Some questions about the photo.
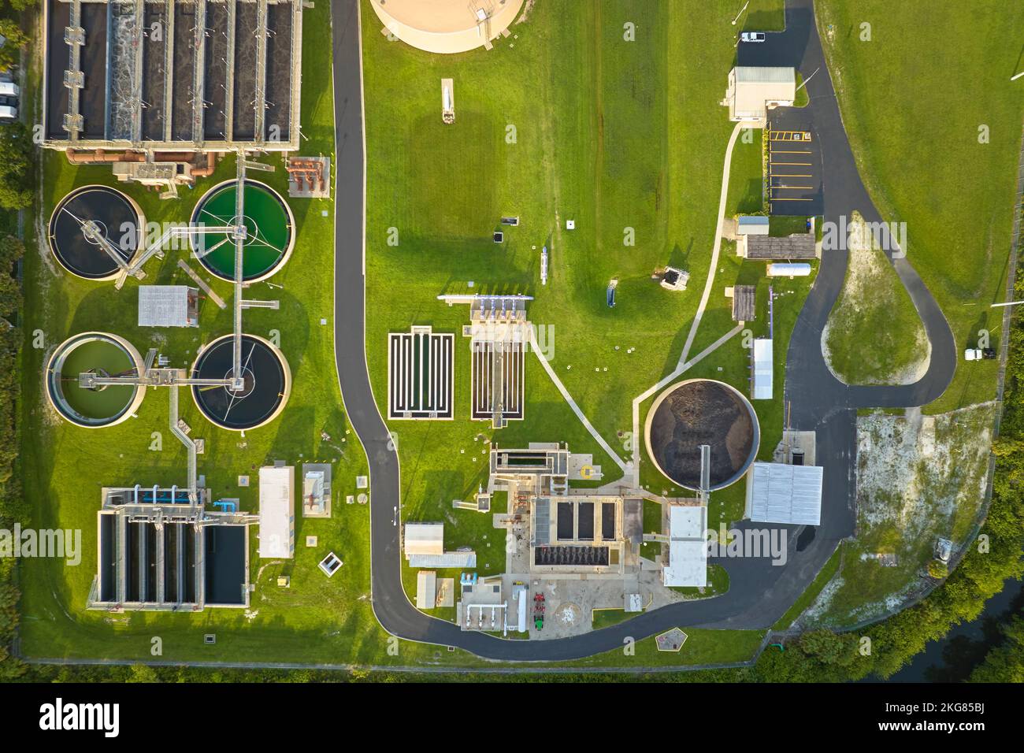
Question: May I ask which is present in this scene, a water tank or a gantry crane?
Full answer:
This aerial view contains a water tank.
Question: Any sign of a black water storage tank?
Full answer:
Yes, a black water storage tank appears in the view.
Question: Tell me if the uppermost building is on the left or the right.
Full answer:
The uppermost building is on the right side of the image.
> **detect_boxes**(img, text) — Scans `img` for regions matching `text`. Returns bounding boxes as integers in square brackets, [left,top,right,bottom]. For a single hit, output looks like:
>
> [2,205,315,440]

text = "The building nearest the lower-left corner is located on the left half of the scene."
[257,459,295,557]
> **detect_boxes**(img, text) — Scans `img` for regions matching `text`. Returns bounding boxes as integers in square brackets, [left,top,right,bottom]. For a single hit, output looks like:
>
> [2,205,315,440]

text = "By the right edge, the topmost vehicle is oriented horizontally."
[966,349,1000,361]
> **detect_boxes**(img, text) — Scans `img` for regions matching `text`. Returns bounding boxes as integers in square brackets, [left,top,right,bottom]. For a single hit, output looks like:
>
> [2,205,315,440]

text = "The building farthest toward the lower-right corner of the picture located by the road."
[742,452,824,526]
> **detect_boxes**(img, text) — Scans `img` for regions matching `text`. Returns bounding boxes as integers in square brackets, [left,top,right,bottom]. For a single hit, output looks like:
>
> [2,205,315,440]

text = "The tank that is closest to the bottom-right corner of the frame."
[643,378,761,506]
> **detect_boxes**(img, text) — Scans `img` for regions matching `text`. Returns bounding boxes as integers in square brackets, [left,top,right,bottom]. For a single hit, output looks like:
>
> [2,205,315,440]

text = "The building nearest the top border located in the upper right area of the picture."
[719,67,795,120]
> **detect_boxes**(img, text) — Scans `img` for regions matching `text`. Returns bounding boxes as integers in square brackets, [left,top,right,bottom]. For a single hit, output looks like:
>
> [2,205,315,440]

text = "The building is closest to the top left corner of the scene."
[118,161,201,200]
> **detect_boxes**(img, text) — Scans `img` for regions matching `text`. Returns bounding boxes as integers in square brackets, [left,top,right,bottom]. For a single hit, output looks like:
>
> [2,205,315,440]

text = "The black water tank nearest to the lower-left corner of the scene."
[191,333,293,430]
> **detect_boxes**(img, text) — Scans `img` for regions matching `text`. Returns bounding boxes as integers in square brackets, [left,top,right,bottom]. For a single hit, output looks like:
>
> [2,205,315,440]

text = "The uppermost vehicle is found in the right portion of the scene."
[742,29,767,41]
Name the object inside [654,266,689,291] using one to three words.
building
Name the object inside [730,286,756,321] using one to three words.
shed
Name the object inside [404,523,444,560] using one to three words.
shed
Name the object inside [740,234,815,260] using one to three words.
building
